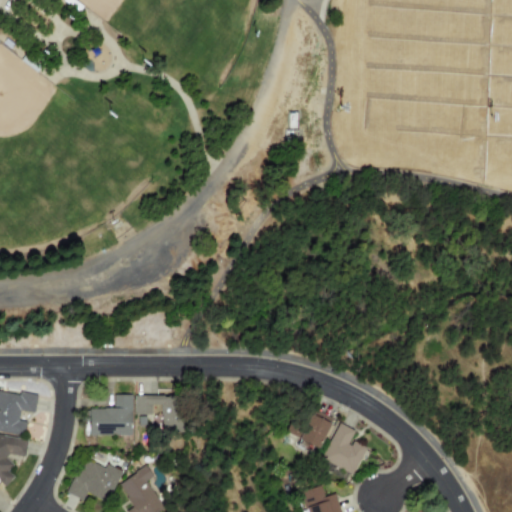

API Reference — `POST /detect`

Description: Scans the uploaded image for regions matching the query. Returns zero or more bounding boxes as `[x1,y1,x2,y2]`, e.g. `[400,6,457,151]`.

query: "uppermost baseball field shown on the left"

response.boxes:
[83,0,254,112]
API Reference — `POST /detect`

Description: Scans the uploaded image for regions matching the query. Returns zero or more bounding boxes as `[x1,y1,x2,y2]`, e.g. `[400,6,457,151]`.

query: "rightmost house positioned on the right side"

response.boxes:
[326,422,371,475]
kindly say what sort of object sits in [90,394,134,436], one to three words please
house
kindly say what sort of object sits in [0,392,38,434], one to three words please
house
